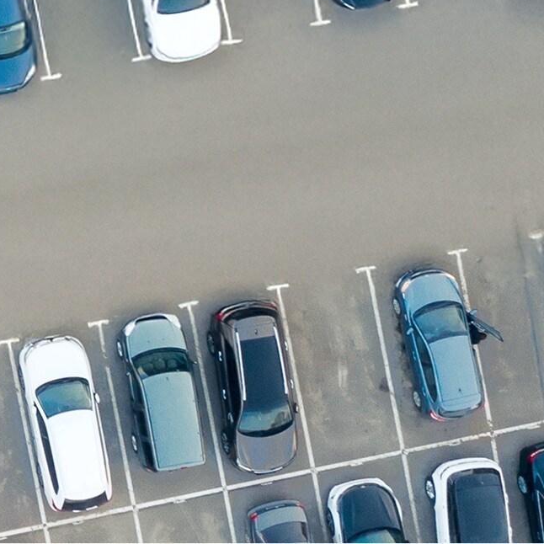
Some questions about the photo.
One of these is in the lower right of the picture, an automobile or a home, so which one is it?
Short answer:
automobile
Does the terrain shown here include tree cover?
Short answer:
No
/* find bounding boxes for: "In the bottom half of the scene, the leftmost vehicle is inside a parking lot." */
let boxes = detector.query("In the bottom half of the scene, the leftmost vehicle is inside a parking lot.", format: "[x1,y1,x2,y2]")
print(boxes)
[19,334,114,517]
